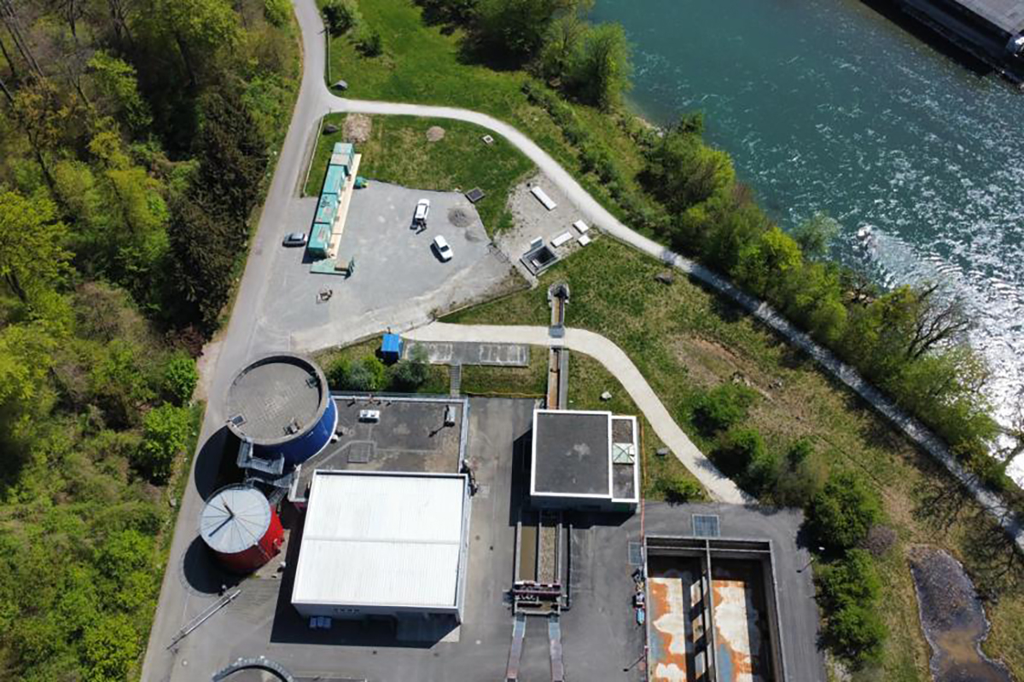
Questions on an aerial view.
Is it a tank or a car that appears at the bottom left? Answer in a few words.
tank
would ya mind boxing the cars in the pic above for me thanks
[433,235,453,260]
[281,232,308,247]
[411,201,429,225]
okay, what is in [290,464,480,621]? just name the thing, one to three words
building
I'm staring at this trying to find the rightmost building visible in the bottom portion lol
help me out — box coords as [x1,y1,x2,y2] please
[531,410,640,514]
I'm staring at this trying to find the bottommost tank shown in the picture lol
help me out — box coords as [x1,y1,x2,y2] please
[199,480,289,574]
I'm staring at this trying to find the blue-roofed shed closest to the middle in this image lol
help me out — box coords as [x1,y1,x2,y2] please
[382,325,401,359]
